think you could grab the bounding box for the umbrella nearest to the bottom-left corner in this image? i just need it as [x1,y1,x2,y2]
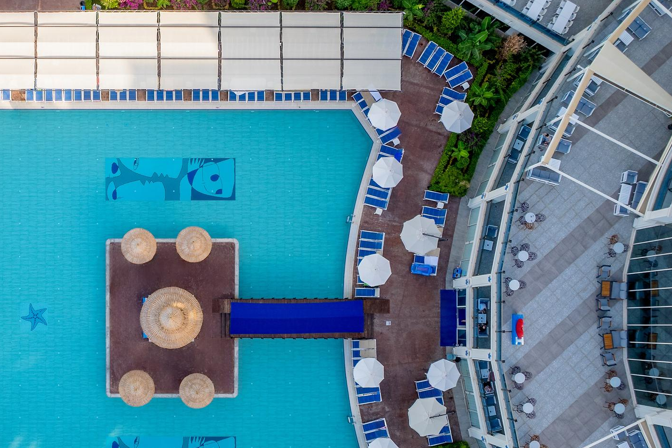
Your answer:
[119,370,155,407]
